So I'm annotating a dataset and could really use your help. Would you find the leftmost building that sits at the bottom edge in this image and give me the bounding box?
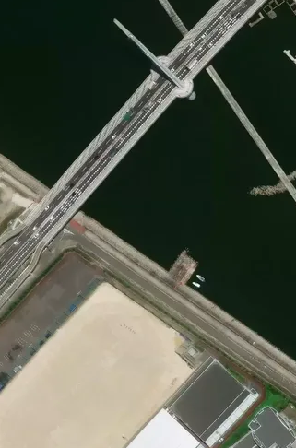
[127,409,208,448]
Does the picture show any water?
Yes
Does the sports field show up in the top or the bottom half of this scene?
bottom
